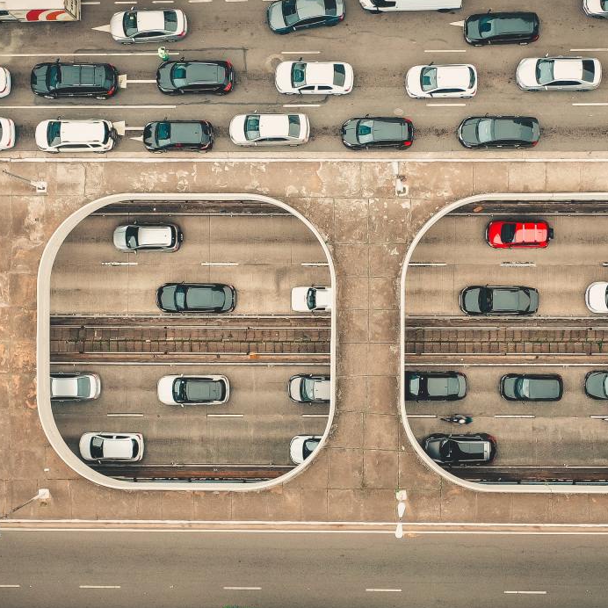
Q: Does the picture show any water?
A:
No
